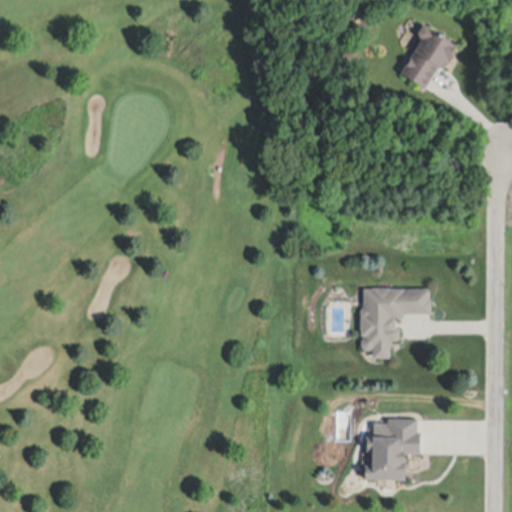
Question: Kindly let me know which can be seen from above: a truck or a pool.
pool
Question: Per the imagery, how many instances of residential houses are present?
3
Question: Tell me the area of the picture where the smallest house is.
top right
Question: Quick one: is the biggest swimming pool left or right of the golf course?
to the right of it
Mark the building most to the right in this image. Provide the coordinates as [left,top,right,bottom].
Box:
[402,22,456,88]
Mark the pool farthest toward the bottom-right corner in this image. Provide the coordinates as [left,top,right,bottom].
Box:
[336,408,352,442]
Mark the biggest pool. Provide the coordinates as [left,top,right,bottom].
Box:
[327,301,352,338]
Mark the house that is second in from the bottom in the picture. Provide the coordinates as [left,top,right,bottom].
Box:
[360,288,432,360]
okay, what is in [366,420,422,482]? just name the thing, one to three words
house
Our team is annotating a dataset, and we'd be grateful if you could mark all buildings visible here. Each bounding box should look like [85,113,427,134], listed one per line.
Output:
[360,288,432,360]
[402,22,456,88]
[366,420,422,482]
